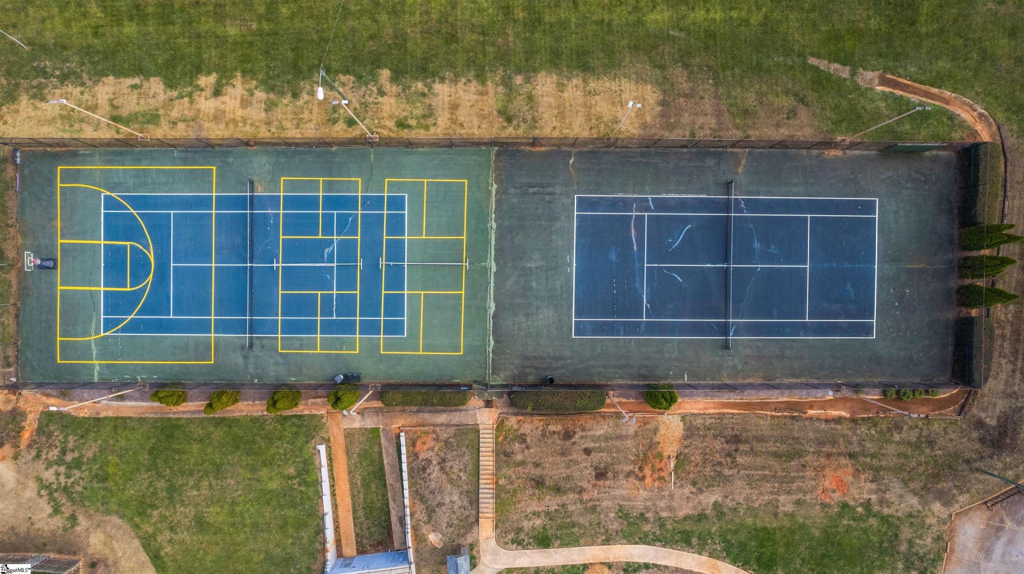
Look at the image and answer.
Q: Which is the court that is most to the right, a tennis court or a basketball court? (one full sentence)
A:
The court that is most to the right in the image is a tennis court.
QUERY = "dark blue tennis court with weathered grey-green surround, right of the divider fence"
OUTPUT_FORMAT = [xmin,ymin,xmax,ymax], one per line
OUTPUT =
[490,147,958,383]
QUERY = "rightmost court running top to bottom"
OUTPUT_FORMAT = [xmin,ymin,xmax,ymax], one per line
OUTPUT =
[381,179,468,354]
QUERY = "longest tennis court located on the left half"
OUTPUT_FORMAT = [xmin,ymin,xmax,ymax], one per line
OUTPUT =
[19,147,490,382]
